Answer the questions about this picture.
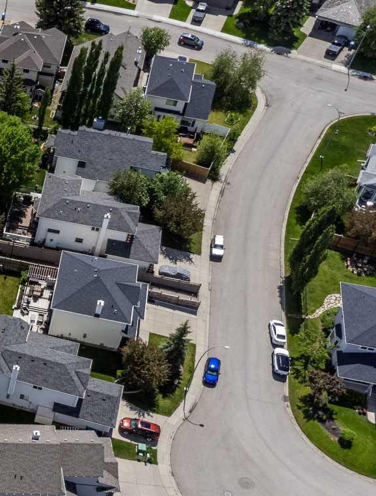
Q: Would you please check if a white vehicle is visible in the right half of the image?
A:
Yes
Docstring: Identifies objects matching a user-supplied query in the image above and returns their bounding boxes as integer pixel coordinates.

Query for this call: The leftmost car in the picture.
[84,15,111,32]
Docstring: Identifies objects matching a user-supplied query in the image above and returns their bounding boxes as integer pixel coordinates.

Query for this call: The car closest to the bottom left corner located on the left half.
[120,415,162,438]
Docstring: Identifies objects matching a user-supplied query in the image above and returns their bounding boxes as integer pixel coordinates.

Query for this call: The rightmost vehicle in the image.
[324,35,345,54]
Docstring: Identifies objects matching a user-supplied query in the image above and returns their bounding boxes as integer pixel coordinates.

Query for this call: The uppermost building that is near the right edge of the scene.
[312,0,367,39]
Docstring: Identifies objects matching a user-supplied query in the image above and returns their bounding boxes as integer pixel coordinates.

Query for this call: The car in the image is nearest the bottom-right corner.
[274,347,294,377]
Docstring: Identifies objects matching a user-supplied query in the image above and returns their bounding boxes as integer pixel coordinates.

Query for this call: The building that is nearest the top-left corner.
[0,14,67,94]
